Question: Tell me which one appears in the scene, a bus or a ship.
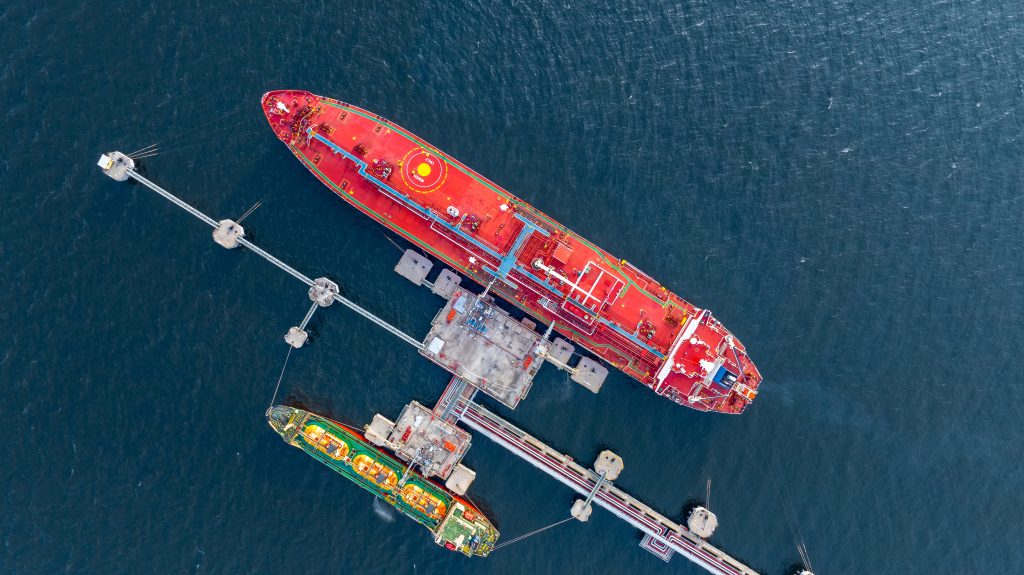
ship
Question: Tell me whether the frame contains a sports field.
No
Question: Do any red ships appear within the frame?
Yes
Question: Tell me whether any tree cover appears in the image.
No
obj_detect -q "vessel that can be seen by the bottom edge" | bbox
[264,404,501,556]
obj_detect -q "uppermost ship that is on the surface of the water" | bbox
[260,87,765,413]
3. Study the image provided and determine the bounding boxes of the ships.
[264,404,501,556]
[260,87,765,413]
